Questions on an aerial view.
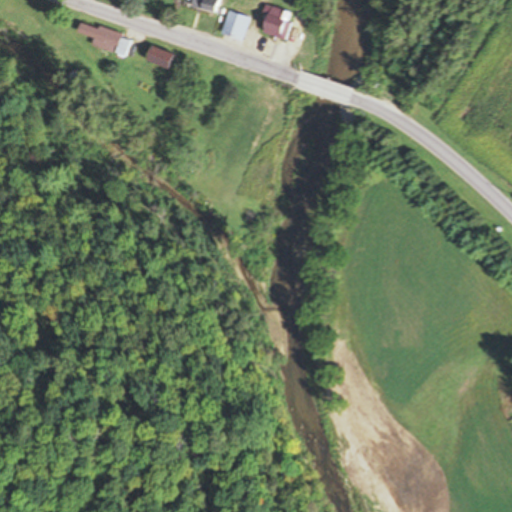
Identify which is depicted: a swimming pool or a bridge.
bridge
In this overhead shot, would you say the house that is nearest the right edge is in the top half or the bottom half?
top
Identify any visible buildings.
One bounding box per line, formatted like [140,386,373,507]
[116,36,136,60]
[258,4,294,41]
[78,20,122,55]
[222,13,252,45]
[191,0,221,16]
[146,44,176,68]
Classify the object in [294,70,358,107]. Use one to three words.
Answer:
bridge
